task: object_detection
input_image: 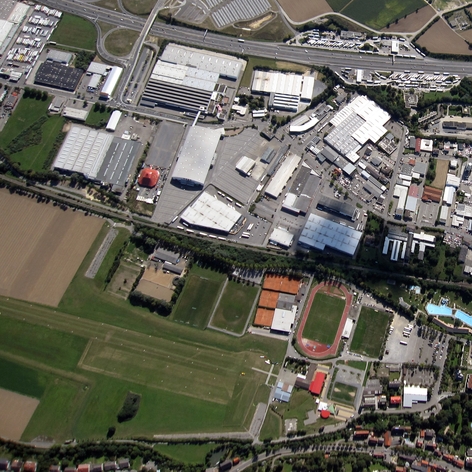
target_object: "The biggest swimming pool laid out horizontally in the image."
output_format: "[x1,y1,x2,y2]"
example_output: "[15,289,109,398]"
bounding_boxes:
[424,301,456,316]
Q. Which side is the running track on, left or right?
right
